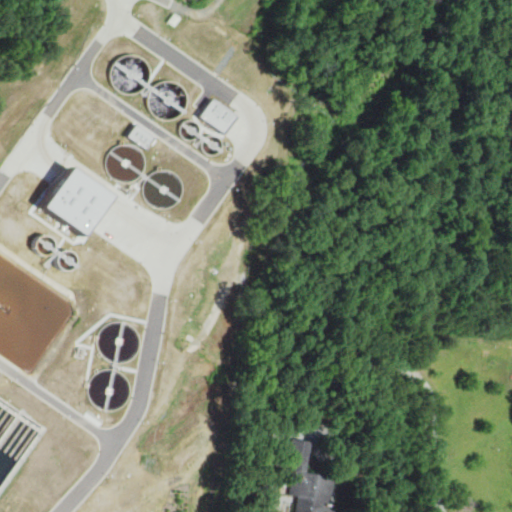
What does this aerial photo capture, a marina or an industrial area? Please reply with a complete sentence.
The picture captures an industrial area.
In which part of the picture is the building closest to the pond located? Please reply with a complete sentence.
Look in the left portion of the view to spot the building closest to the pond.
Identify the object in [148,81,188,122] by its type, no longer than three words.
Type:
storage tank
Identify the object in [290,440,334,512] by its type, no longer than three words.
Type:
house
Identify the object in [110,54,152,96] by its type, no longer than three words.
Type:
storage tank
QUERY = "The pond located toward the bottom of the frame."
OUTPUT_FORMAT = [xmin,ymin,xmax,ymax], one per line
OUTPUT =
[0,242,80,378]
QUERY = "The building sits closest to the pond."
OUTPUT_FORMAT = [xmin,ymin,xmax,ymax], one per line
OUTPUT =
[46,168,118,236]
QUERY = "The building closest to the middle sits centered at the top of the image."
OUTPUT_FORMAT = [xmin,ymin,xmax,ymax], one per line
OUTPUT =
[200,99,238,134]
